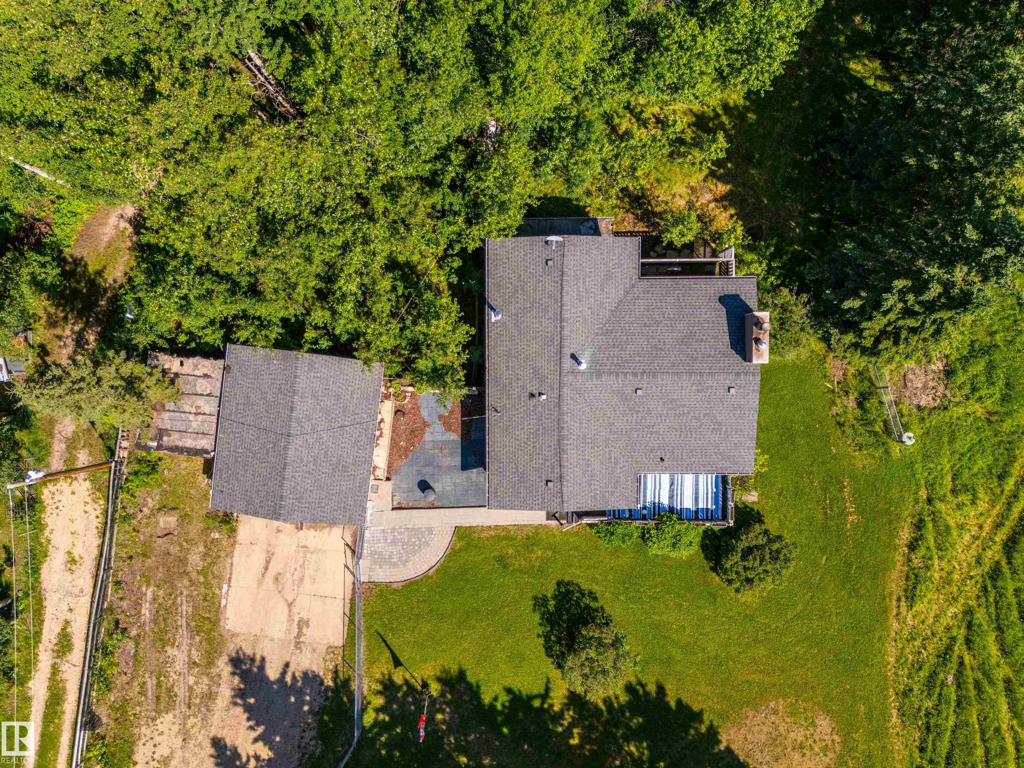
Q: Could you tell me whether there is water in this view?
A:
No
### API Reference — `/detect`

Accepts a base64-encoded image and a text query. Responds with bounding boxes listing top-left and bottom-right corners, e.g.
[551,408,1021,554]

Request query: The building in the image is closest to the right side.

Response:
[485,235,772,512]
